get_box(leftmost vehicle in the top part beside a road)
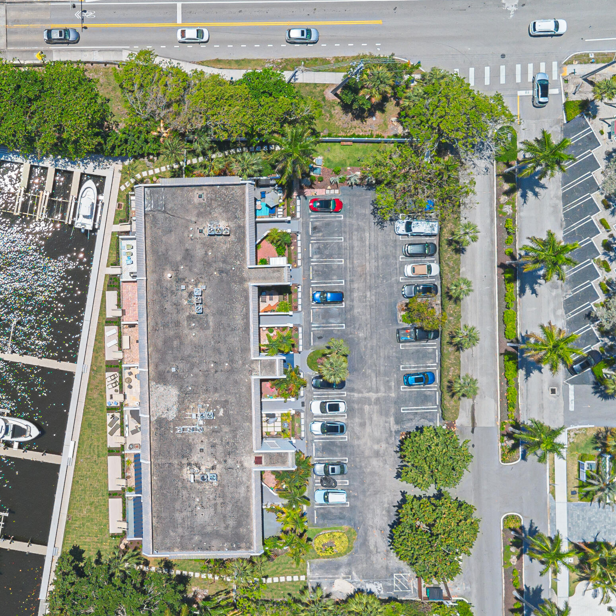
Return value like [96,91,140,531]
[43,26,79,44]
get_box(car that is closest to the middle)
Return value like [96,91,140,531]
[311,289,345,306]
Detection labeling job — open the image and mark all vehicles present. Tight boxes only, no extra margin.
[401,241,437,259]
[177,26,210,43]
[43,26,79,44]
[311,375,346,391]
[309,419,347,438]
[401,282,438,298]
[312,461,348,479]
[311,289,345,306]
[285,24,319,43]
[528,16,566,35]
[313,488,347,507]
[309,196,342,213]
[567,349,602,376]
[402,370,434,388]
[531,72,552,108]
[394,218,439,236]
[309,398,347,417]
[403,261,439,278]
[396,325,439,344]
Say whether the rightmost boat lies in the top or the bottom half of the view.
top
